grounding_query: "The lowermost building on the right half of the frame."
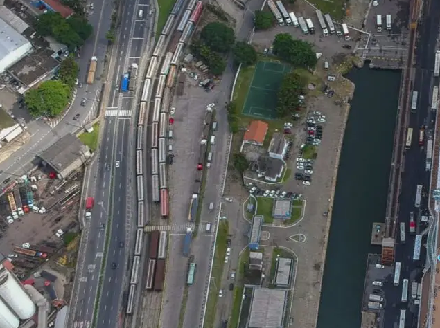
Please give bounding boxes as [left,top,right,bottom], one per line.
[249,288,287,328]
